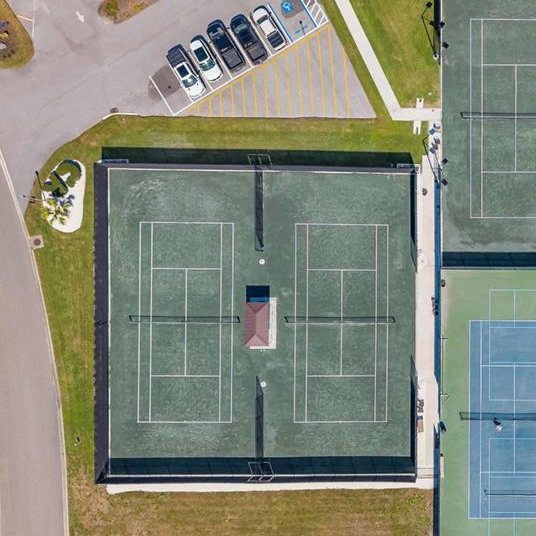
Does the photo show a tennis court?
Yes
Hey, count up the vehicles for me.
five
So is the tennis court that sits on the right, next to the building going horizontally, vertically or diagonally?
vertically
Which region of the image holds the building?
center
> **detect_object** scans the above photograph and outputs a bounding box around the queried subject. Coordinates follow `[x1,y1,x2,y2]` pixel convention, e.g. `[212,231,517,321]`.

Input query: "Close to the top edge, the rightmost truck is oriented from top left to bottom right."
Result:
[252,6,287,51]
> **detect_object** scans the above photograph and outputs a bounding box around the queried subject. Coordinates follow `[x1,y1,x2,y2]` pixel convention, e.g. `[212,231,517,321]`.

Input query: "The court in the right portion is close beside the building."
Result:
[263,171,416,476]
